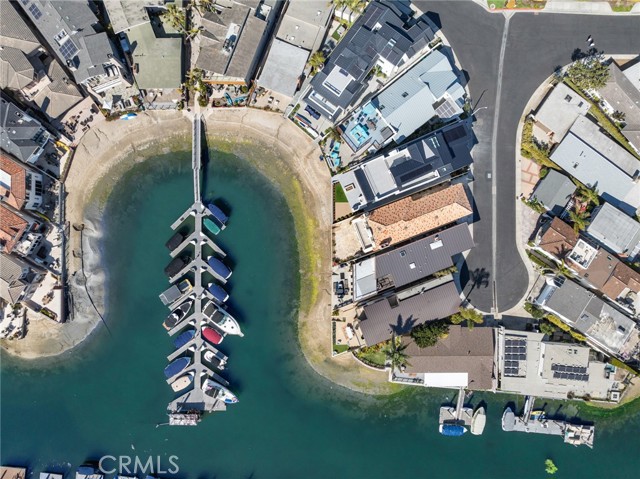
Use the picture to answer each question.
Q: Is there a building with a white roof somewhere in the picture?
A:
Yes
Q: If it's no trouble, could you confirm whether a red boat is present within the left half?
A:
Yes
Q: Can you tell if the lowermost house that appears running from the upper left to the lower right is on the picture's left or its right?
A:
right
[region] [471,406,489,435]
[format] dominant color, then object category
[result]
white boat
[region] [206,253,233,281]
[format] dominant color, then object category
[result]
blue boat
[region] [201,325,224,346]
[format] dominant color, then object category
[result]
red boat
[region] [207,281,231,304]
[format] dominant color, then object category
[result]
blue boat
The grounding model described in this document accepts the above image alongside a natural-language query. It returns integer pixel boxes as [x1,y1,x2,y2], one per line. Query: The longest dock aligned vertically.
[169,204,226,410]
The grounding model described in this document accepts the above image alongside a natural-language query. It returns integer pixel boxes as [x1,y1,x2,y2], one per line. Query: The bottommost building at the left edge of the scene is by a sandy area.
[0,243,52,303]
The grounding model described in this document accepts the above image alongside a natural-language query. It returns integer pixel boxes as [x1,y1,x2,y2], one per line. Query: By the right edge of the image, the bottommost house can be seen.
[494,327,613,396]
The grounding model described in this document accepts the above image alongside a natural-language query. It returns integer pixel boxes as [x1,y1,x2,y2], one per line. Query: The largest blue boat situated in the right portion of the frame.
[439,424,468,438]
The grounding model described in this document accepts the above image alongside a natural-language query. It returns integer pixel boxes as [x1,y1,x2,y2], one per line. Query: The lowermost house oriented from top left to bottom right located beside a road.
[532,273,636,362]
